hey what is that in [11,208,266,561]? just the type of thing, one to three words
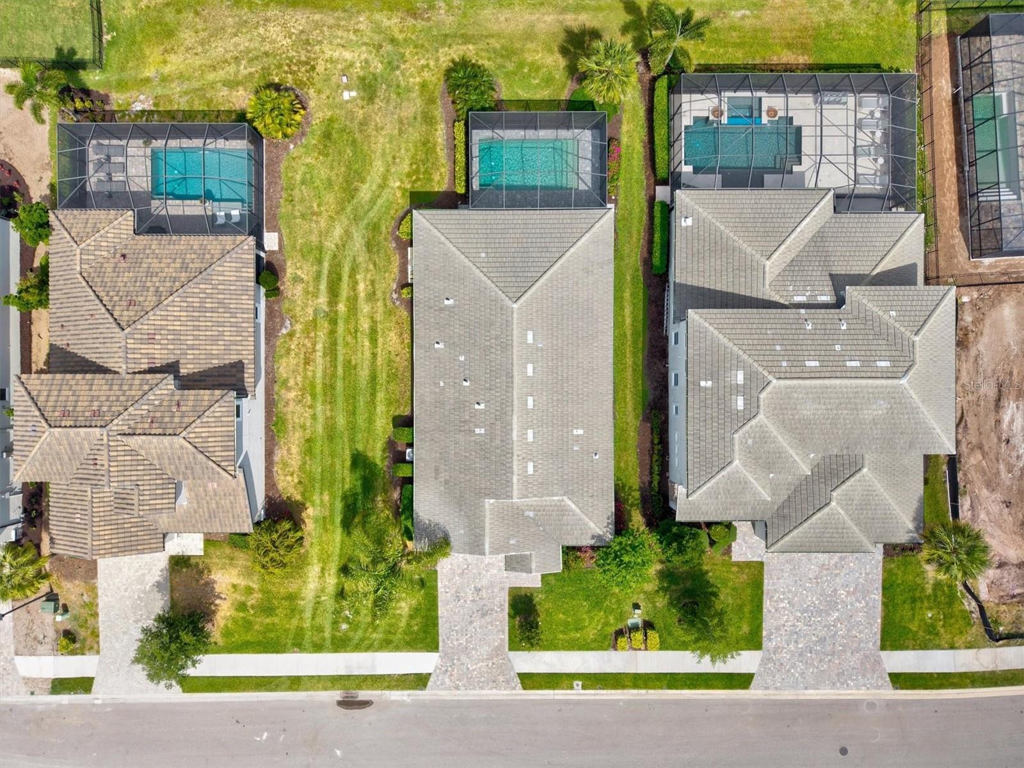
house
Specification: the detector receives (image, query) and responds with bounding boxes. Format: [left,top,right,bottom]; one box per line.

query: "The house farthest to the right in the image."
[669,188,958,554]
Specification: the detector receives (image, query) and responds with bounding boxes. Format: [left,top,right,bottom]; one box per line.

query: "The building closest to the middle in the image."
[411,208,615,576]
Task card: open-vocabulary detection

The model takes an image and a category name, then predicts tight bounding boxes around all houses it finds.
[411,208,615,576]
[11,208,266,561]
[669,188,958,554]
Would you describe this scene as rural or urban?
urban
